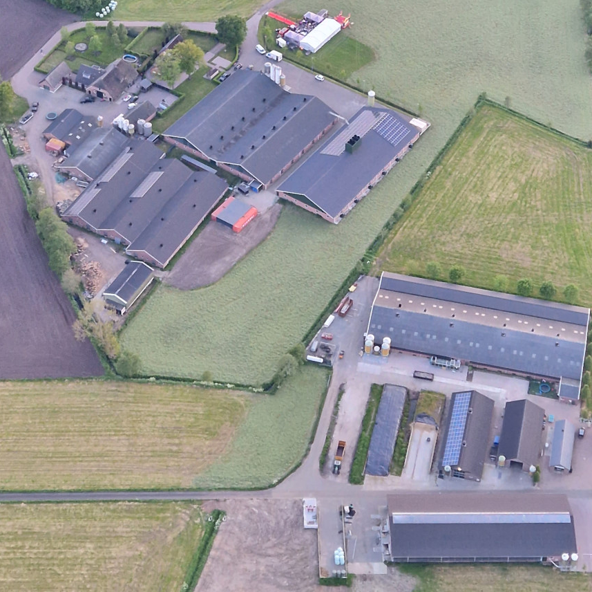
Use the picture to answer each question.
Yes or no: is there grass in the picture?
Yes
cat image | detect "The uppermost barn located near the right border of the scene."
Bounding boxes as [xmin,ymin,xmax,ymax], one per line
[364,270,592,381]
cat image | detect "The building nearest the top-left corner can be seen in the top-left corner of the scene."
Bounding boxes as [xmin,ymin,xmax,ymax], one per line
[37,59,75,94]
